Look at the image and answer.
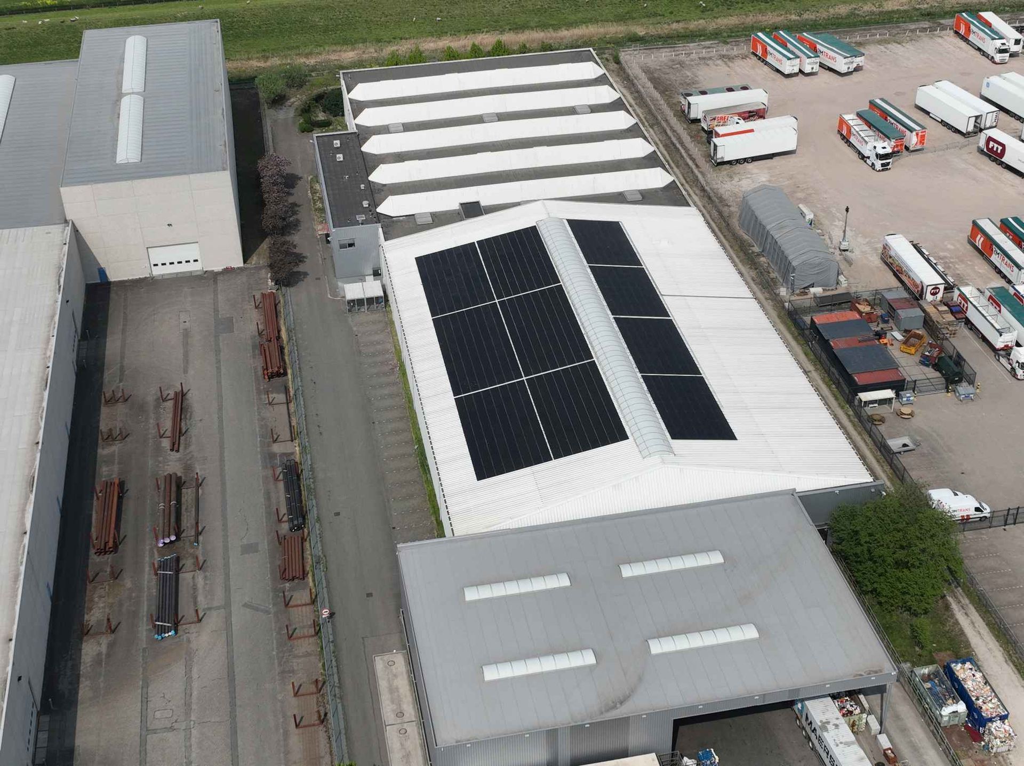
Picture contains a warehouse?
Yes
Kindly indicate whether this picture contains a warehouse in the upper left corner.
Yes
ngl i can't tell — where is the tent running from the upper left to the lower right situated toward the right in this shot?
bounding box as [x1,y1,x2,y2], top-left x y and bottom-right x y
[740,189,841,292]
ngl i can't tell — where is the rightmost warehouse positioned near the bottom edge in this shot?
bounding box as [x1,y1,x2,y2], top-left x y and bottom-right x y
[396,487,898,766]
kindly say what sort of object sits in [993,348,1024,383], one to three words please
truck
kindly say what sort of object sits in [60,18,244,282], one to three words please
warehouse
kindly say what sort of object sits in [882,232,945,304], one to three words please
trailer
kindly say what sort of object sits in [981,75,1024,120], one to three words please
trailer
